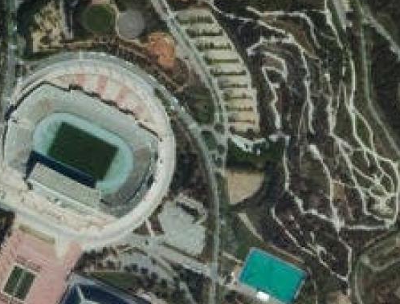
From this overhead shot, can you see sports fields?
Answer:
Yes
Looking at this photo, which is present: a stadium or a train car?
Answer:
stadium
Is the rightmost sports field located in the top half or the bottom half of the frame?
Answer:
bottom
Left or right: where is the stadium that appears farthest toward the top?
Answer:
left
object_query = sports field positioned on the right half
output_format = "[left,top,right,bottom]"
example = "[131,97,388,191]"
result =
[239,249,306,304]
